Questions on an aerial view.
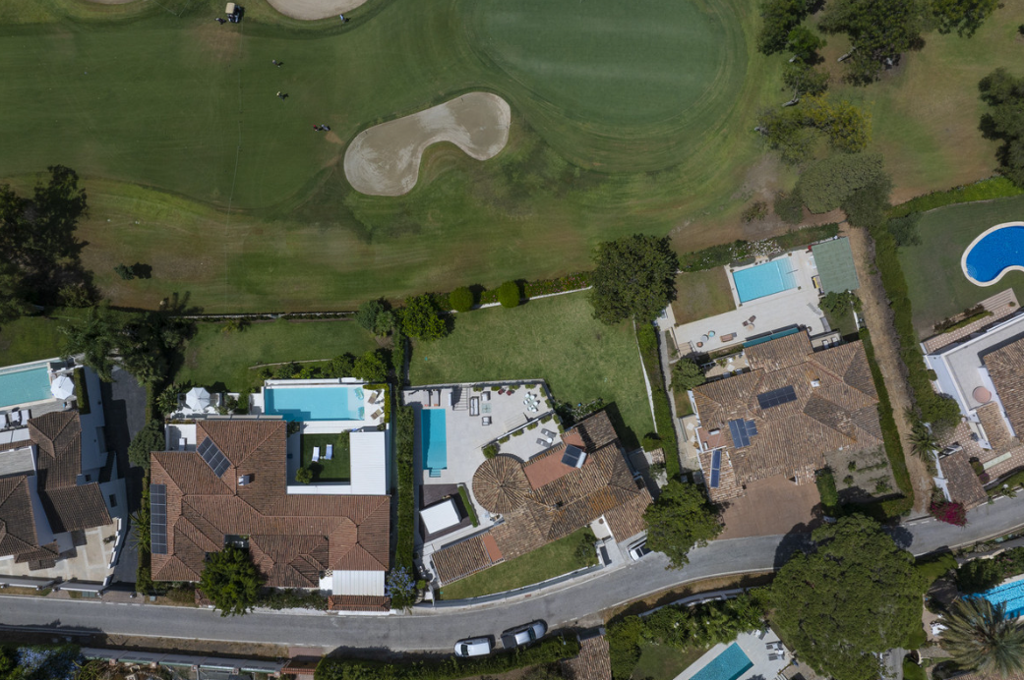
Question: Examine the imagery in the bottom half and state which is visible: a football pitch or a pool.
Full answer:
It is a pool that can be seen in the bottom half.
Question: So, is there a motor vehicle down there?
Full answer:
Yes, the picture does show a motor vehicle.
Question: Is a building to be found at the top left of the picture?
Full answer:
No, the scene shows no building at the top left of the picture.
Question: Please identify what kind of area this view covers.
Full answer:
The picture captures a golf course.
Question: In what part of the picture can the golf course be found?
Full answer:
You can find the golf course in the top area of the picture.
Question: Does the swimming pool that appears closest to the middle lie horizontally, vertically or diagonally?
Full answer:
The swimming pool that appears closest to the middle is laid out vertically.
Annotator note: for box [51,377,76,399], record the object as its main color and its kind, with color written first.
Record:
white umbrella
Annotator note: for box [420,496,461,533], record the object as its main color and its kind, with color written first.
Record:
white gazebo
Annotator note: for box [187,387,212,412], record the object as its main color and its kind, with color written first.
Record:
white umbrella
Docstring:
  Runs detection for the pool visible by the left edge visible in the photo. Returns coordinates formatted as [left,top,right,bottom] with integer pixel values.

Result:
[0,362,58,411]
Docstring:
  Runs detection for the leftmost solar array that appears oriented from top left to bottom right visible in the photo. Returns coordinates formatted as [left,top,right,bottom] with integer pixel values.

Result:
[196,437,230,477]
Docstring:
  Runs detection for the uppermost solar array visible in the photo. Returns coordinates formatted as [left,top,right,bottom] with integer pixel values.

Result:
[757,385,798,410]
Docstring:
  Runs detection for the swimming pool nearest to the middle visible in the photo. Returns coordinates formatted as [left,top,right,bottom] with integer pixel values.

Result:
[421,409,447,478]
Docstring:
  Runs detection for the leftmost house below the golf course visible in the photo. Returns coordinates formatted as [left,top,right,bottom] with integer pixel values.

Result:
[0,412,126,571]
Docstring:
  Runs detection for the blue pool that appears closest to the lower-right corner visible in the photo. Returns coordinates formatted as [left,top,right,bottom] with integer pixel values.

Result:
[959,579,1024,628]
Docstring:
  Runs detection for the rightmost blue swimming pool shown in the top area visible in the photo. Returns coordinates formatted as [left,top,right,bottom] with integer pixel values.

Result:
[961,220,1024,287]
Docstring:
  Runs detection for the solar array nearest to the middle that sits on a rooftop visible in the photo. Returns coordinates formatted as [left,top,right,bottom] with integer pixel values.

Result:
[561,444,582,468]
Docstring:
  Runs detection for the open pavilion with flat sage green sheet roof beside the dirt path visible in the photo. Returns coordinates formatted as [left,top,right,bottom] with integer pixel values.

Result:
[804,237,860,295]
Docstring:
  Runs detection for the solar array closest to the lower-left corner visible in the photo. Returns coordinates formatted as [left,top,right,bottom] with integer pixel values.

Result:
[150,484,166,554]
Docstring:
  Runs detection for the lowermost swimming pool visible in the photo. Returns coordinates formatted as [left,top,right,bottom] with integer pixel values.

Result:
[673,645,752,680]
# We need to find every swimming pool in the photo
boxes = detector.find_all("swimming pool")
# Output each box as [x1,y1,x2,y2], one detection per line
[959,579,1024,628]
[732,257,797,302]
[0,362,58,411]
[961,220,1024,287]
[673,645,752,680]
[421,409,447,478]
[264,388,364,421]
